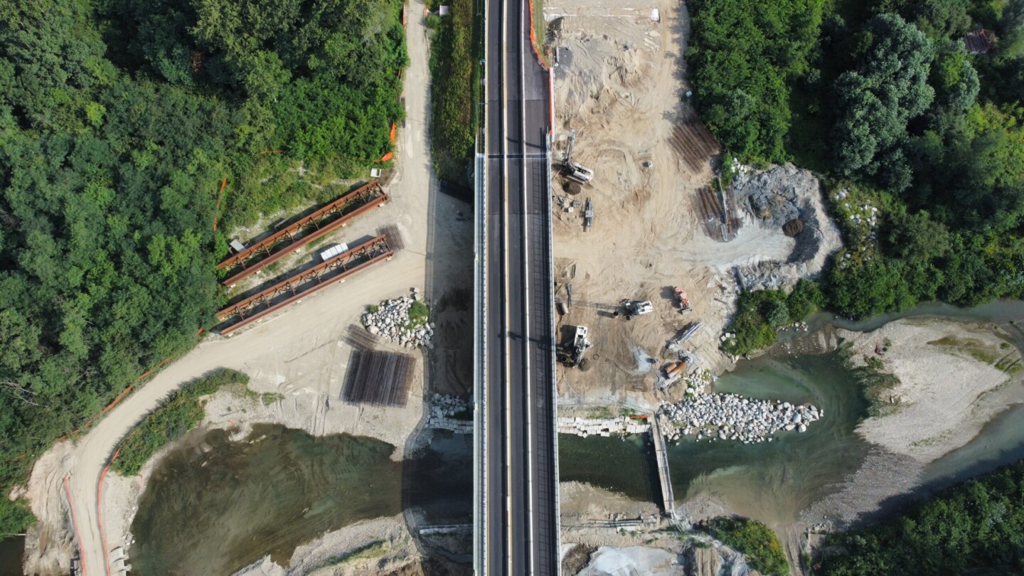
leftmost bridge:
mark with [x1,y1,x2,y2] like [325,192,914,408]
[472,139,560,576]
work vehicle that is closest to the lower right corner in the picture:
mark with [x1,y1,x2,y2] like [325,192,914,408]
[673,286,694,319]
